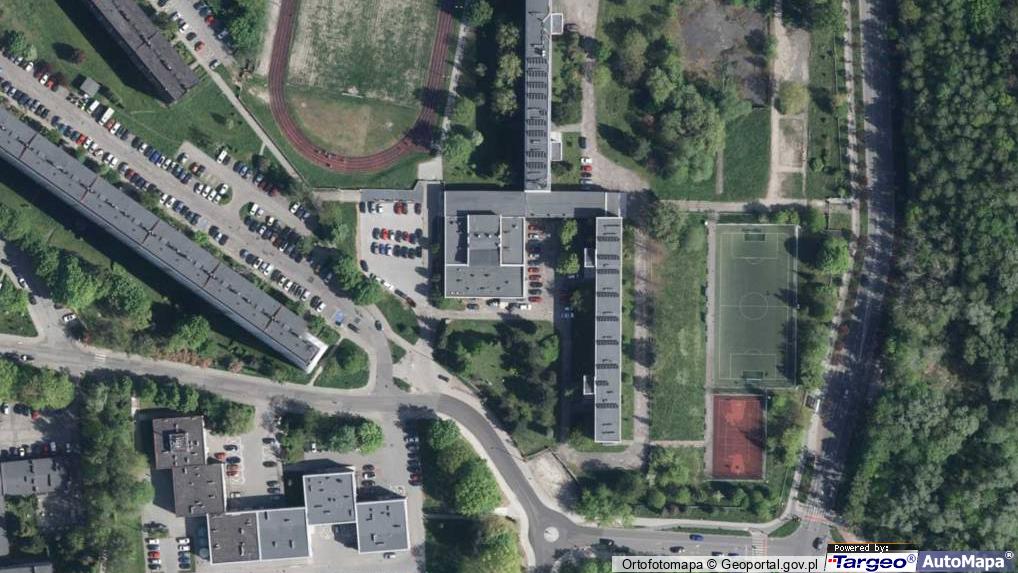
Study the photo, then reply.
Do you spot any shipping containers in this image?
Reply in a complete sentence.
No, no shipping container is visible in the scene.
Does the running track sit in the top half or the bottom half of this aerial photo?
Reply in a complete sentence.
You can find the running track in the top half.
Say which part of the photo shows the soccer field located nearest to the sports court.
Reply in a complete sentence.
The soccer field located nearest to the sports court is located in the right region of the scene.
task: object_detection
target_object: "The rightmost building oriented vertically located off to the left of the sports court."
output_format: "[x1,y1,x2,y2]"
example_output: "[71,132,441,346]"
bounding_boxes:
[582,217,621,446]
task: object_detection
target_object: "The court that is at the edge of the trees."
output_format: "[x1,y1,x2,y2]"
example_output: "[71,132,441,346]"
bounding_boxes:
[713,395,765,479]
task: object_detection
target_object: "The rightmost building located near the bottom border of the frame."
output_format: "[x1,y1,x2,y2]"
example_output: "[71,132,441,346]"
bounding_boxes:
[356,498,411,554]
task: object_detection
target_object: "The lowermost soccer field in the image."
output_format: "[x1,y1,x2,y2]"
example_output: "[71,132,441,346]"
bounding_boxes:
[716,225,797,388]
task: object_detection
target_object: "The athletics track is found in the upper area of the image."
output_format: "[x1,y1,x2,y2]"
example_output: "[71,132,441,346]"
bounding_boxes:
[269,0,454,171]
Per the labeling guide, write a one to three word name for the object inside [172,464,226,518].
building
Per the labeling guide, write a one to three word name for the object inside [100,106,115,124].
vehicle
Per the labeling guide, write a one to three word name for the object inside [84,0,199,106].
building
